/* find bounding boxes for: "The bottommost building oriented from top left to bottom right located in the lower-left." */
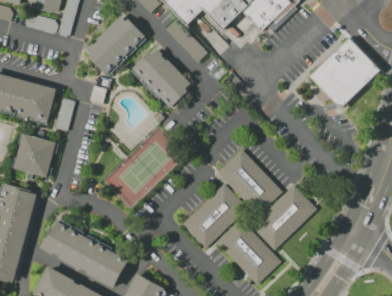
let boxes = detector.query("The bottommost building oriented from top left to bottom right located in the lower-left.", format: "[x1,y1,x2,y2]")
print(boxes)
[40,220,126,288]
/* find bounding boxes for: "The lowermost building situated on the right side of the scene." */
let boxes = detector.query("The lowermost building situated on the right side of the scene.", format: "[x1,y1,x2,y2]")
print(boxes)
[216,224,283,284]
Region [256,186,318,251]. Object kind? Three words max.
building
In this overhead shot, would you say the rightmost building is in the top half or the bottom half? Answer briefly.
top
